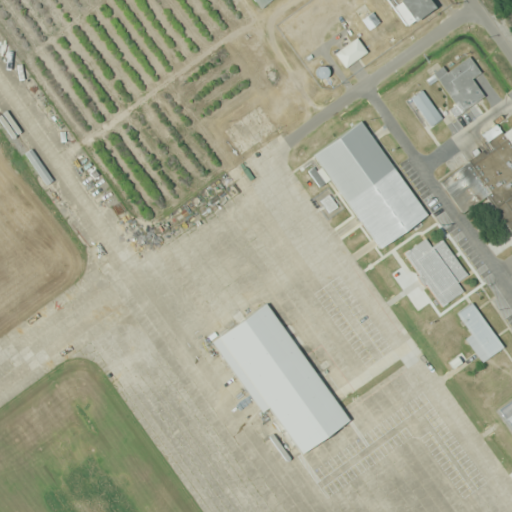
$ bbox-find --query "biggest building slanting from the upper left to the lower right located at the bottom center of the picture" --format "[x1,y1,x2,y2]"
[214,304,350,454]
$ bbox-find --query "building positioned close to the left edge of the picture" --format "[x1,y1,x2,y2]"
[26,148,54,185]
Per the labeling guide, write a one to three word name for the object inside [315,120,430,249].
hangar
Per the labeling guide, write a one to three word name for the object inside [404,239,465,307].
building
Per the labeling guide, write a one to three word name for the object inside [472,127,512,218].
building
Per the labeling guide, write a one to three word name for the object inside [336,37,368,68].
house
